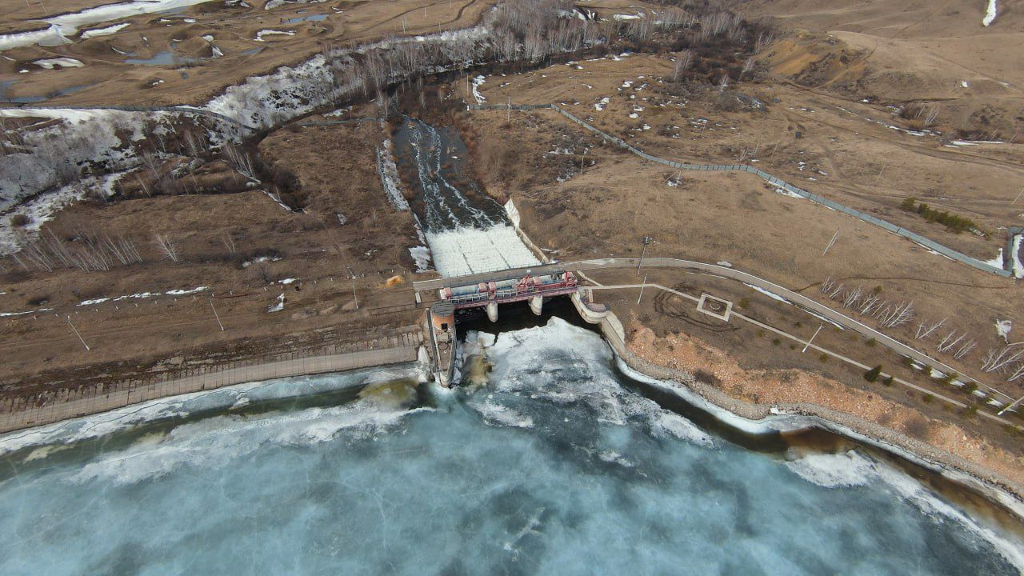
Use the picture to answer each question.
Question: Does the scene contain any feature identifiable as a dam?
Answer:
Yes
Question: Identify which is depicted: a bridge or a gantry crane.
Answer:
bridge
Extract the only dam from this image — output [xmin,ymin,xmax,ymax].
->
[414,200,632,365]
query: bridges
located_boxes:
[412,260,588,292]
